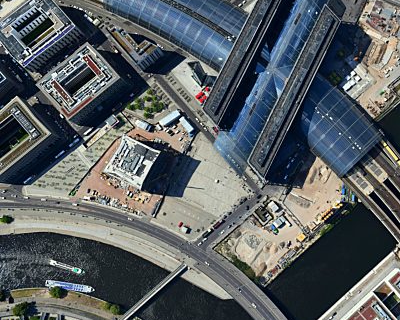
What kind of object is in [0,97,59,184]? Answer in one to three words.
building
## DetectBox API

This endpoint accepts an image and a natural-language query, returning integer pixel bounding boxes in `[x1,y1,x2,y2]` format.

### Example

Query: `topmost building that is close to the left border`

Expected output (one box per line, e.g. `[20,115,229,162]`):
[0,0,82,71]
